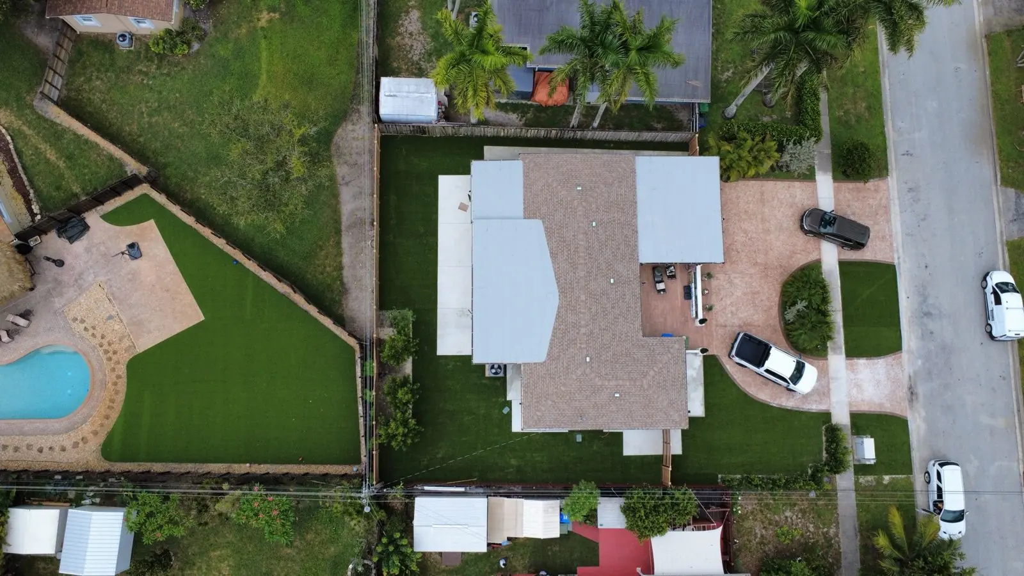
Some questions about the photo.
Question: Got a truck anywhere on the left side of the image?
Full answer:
No, no truck appears on the left side of the image.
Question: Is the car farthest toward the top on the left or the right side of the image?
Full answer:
The car farthest toward the top sits on the right side.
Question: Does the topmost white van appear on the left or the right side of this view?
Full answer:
You can find the topmost white van on the right side of the picture.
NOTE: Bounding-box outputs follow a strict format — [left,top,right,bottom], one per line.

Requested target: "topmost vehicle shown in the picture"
[799,204,875,253]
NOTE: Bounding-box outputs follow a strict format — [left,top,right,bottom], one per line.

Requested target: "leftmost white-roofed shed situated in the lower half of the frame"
[3,504,78,554]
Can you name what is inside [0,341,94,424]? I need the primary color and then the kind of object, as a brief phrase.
blue swimming pool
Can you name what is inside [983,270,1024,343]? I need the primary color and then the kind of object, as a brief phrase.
white van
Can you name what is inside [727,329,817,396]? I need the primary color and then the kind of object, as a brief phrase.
white truck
